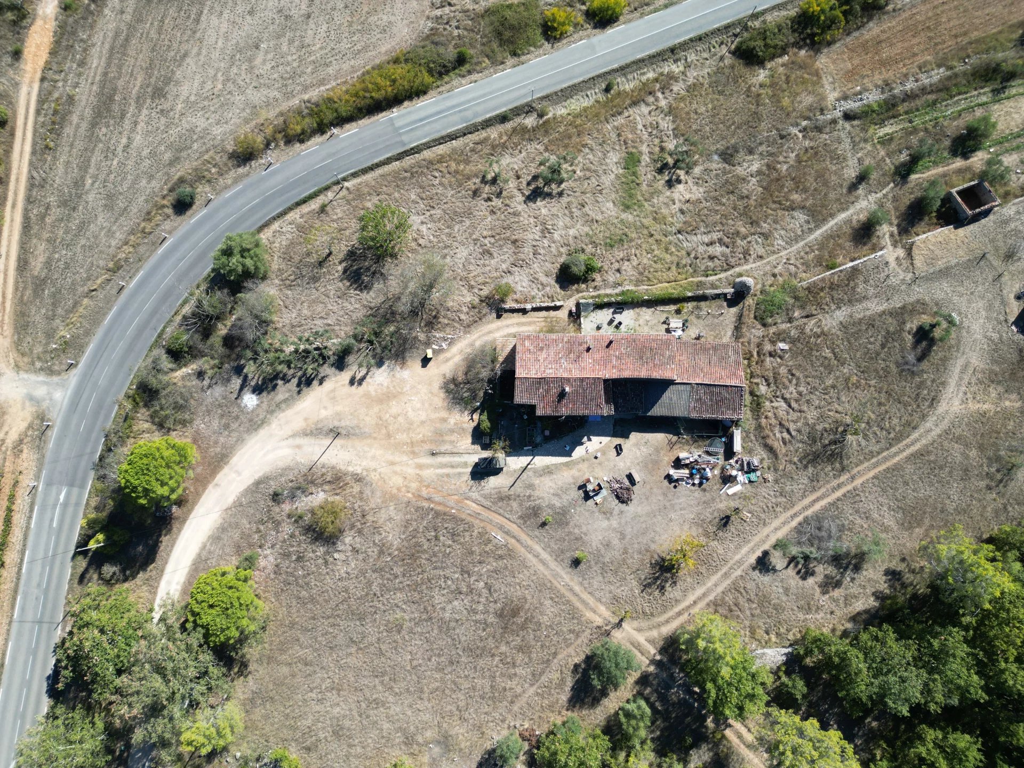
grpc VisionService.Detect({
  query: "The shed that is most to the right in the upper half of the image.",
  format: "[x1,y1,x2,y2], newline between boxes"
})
[941,180,999,232]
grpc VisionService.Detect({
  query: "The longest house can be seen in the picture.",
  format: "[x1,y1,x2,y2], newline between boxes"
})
[513,333,746,420]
